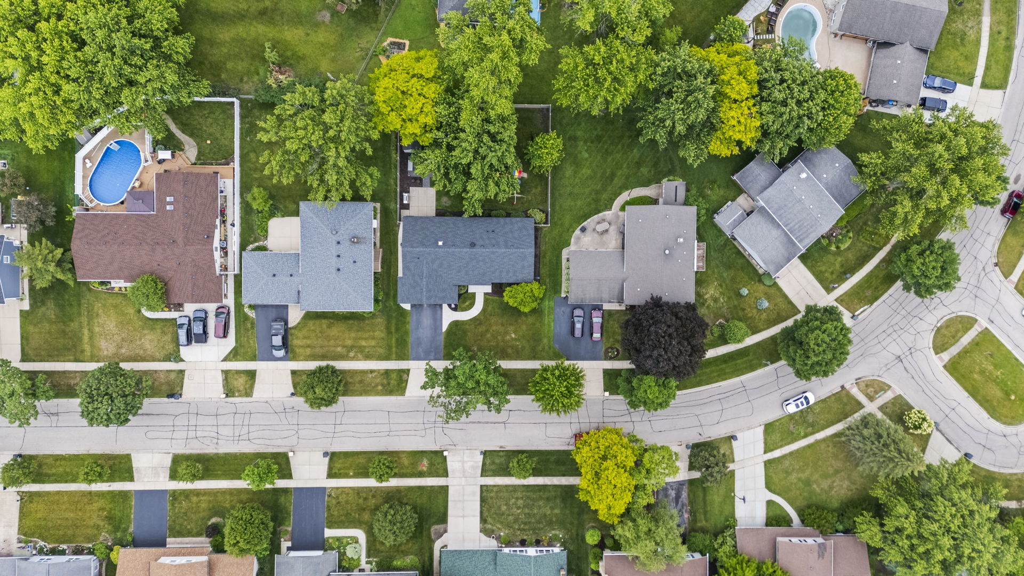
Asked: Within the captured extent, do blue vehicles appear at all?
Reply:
Yes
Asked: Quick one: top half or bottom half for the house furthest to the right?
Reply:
top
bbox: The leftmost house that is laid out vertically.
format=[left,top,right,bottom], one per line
[0,234,31,305]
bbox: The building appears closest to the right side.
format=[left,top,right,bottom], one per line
[824,0,950,108]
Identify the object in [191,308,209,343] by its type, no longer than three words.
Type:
vehicle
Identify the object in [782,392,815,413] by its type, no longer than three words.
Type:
car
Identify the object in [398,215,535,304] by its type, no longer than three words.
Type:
house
